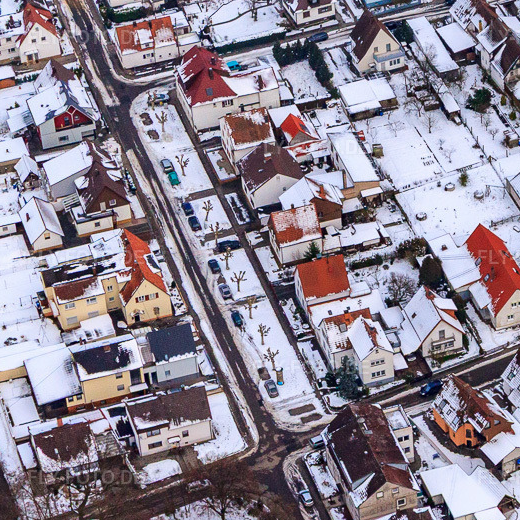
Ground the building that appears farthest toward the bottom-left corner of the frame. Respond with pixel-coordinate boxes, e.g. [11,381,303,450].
[17,442,39,479]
